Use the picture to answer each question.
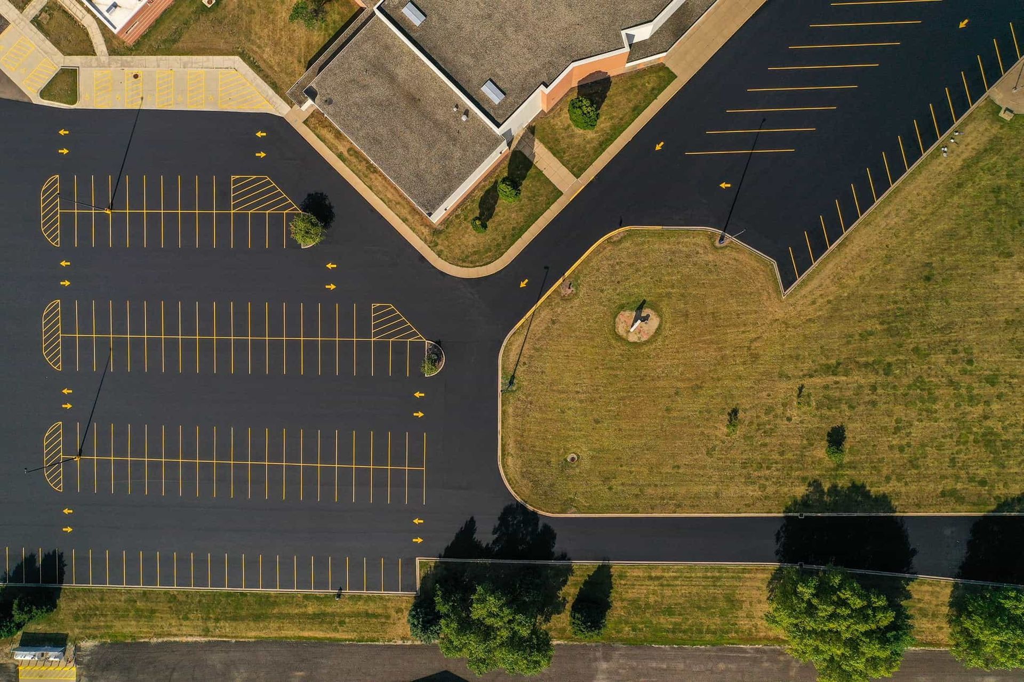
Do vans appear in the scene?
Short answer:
No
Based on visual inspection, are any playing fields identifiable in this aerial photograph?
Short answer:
No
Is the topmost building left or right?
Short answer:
left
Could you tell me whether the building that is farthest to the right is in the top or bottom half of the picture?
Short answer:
top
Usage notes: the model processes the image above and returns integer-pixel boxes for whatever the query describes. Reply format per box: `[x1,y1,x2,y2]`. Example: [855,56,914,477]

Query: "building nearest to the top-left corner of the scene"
[82,0,172,44]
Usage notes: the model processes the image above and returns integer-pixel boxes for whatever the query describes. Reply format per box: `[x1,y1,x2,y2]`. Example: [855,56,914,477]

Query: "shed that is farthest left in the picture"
[11,647,64,662]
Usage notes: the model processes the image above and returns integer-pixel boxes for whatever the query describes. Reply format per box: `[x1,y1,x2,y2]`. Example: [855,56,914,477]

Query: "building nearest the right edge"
[286,0,722,224]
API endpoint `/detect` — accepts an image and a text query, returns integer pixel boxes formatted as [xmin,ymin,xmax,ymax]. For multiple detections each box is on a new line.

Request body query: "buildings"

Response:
[11,647,64,662]
[286,0,722,224]
[82,0,172,44]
